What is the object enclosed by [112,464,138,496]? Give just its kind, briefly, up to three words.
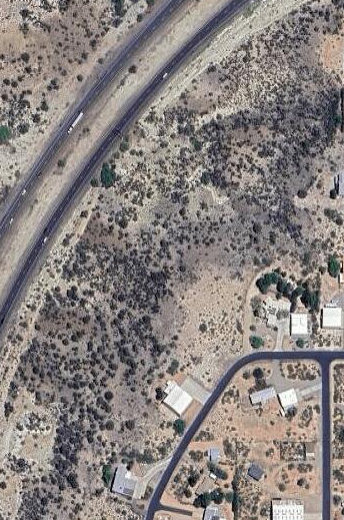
house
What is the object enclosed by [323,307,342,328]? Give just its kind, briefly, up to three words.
house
